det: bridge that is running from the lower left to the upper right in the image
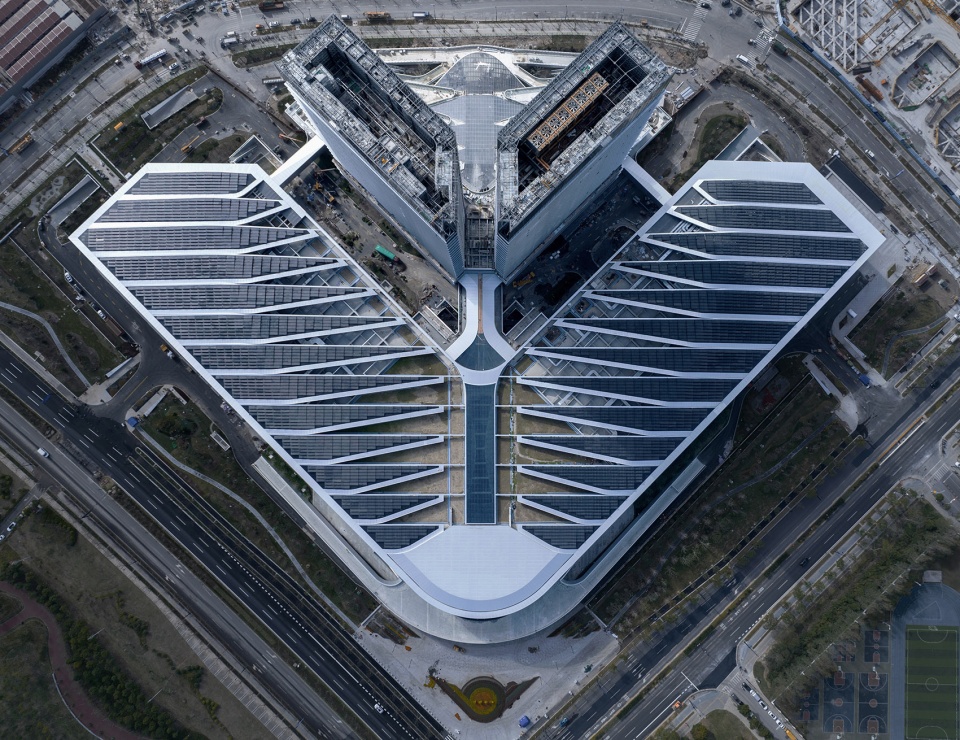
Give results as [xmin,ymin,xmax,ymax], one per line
[268,133,329,193]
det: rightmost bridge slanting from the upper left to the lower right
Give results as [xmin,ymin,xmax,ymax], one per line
[616,154,673,212]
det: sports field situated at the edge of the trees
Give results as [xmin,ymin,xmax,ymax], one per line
[906,626,958,740]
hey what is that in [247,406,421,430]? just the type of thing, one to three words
solar array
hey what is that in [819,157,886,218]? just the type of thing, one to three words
building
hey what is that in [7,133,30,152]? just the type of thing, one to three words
vehicle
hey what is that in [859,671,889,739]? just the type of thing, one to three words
basketball court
